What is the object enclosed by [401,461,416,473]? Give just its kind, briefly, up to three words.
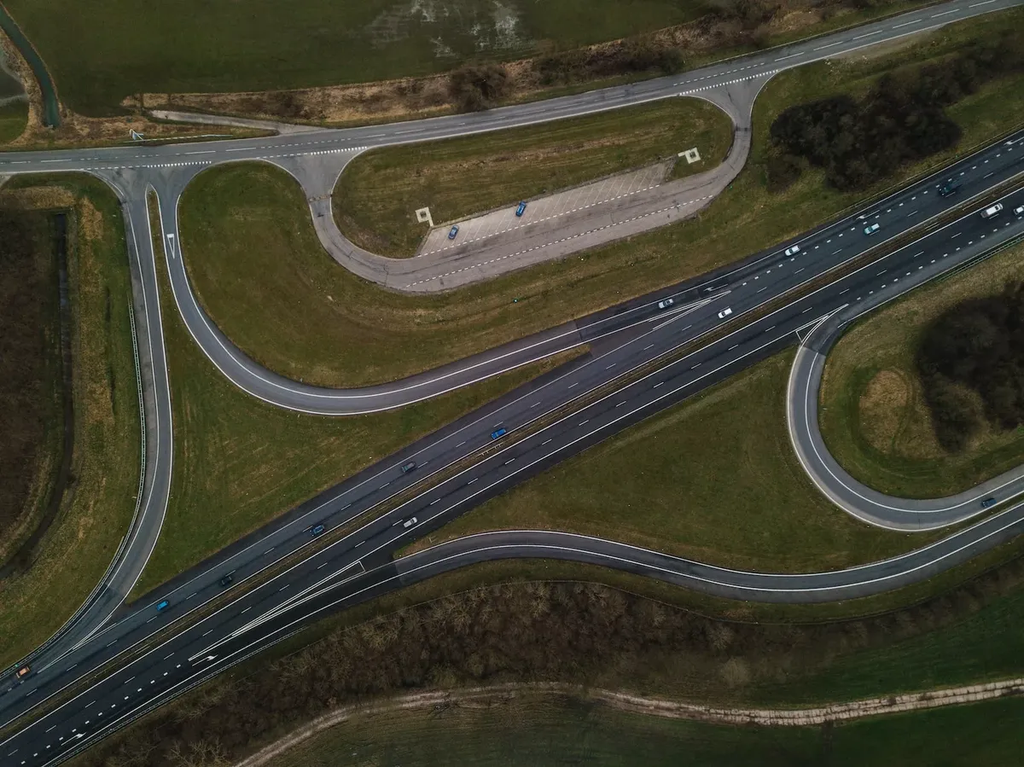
vehicle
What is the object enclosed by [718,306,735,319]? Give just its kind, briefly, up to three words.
vehicle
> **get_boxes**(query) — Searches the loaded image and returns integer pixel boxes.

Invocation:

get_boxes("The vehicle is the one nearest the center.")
[491,428,507,440]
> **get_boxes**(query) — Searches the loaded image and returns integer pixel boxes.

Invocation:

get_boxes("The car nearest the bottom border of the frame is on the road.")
[13,667,29,679]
